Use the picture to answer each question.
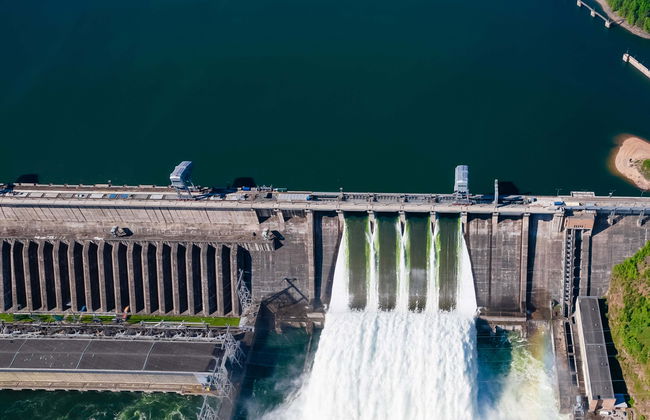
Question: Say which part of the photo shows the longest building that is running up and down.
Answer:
bottom right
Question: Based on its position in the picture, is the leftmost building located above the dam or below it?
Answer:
below it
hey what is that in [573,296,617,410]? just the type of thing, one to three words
building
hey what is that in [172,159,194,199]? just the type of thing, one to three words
container crane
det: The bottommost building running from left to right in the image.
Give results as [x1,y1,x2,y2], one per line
[0,338,225,396]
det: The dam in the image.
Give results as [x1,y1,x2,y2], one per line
[0,182,650,339]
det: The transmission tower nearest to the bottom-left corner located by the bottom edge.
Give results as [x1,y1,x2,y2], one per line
[192,390,220,420]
